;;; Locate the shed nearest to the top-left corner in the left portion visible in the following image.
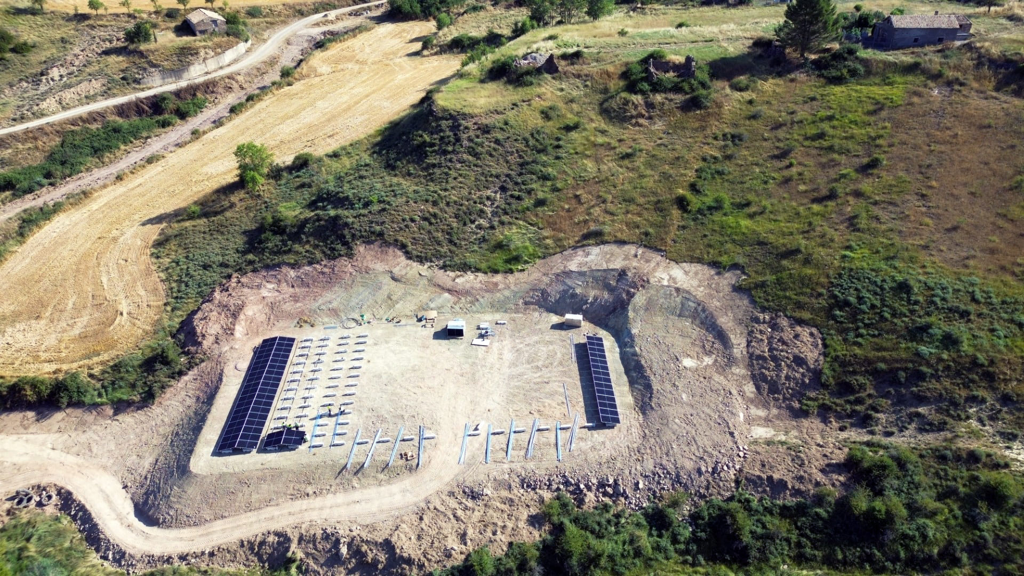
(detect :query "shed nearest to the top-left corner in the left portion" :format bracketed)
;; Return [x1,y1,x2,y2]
[186,8,230,40]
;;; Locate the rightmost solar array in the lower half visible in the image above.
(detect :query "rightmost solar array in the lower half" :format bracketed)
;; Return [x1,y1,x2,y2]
[586,334,621,427]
